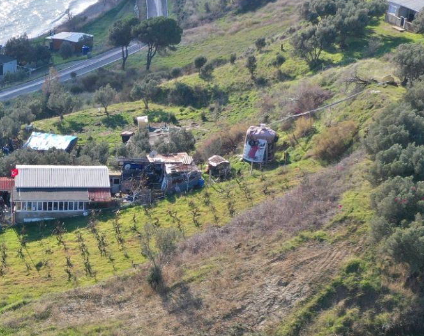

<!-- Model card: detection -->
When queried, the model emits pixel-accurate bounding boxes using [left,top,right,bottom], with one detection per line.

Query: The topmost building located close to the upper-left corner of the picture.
[54,30,97,55]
